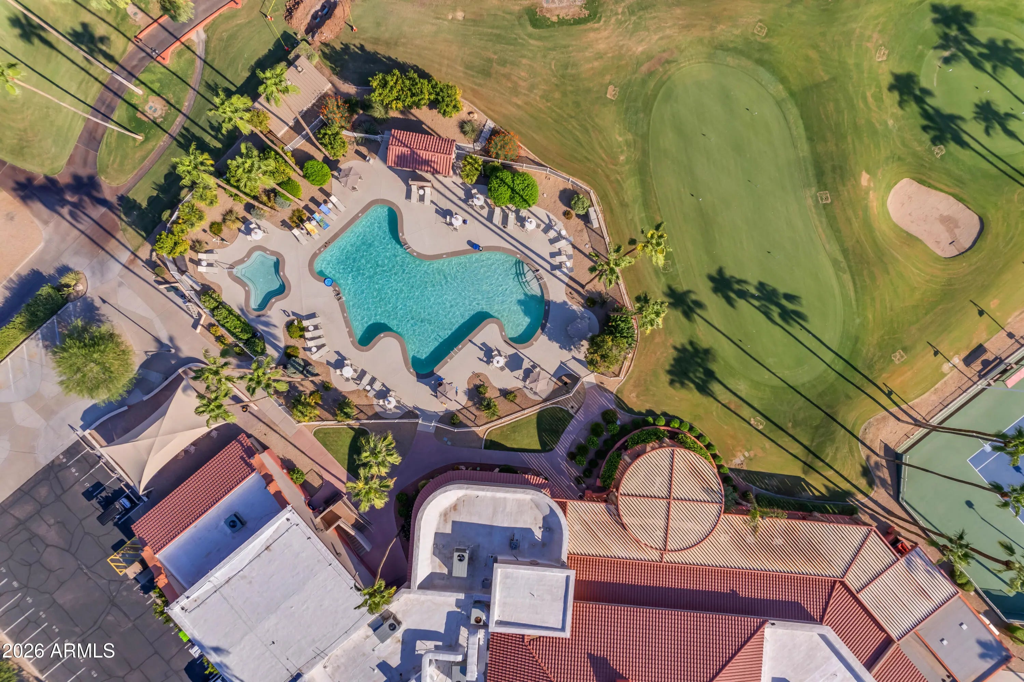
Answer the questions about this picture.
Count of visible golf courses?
1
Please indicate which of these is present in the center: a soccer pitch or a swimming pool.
swimming pool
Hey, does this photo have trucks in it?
No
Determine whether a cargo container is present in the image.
No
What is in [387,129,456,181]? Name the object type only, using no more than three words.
shed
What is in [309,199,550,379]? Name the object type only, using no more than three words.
swimming pool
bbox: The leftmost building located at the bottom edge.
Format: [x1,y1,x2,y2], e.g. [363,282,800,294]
[130,434,380,682]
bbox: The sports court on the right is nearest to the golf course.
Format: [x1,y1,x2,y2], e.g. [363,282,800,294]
[902,354,1024,623]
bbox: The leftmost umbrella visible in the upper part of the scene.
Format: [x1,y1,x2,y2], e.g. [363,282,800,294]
[338,164,364,191]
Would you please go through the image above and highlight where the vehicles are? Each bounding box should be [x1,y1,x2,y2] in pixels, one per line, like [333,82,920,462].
[125,556,151,580]
[188,647,201,661]
[98,495,136,525]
